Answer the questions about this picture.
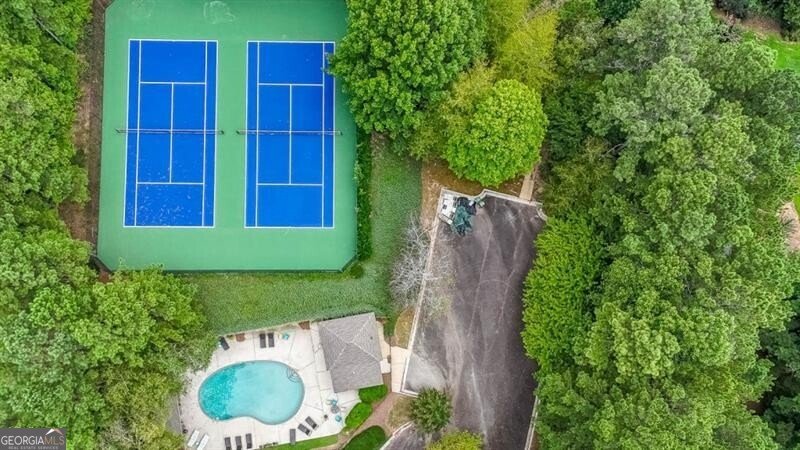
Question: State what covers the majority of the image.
trees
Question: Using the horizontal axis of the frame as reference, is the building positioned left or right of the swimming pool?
right of it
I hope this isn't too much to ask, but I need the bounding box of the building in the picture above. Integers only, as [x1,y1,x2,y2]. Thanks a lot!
[318,312,384,392]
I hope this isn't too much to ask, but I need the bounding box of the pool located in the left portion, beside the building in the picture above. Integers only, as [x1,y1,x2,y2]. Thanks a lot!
[196,359,306,427]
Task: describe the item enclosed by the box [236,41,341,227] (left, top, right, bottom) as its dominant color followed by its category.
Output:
blue tennis court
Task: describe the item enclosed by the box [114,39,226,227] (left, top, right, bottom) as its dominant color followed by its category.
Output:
blue tennis court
